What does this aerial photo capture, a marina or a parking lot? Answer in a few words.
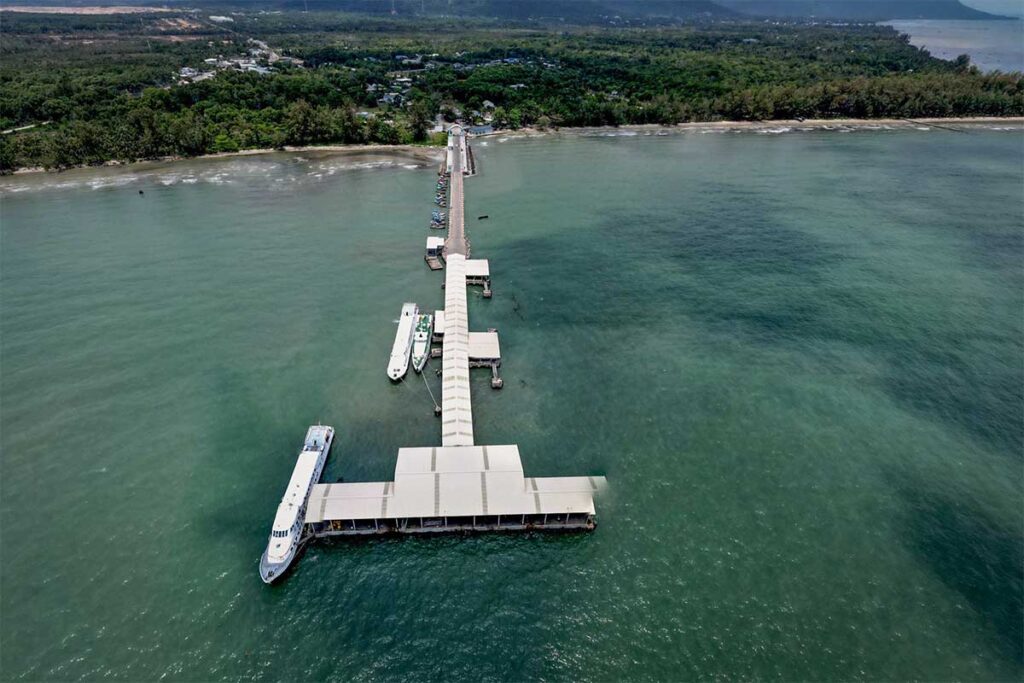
marina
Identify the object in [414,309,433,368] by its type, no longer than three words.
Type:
vessel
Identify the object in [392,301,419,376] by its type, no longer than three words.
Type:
vessel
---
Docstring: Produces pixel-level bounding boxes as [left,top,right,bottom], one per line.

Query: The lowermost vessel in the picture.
[261,417,336,581]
